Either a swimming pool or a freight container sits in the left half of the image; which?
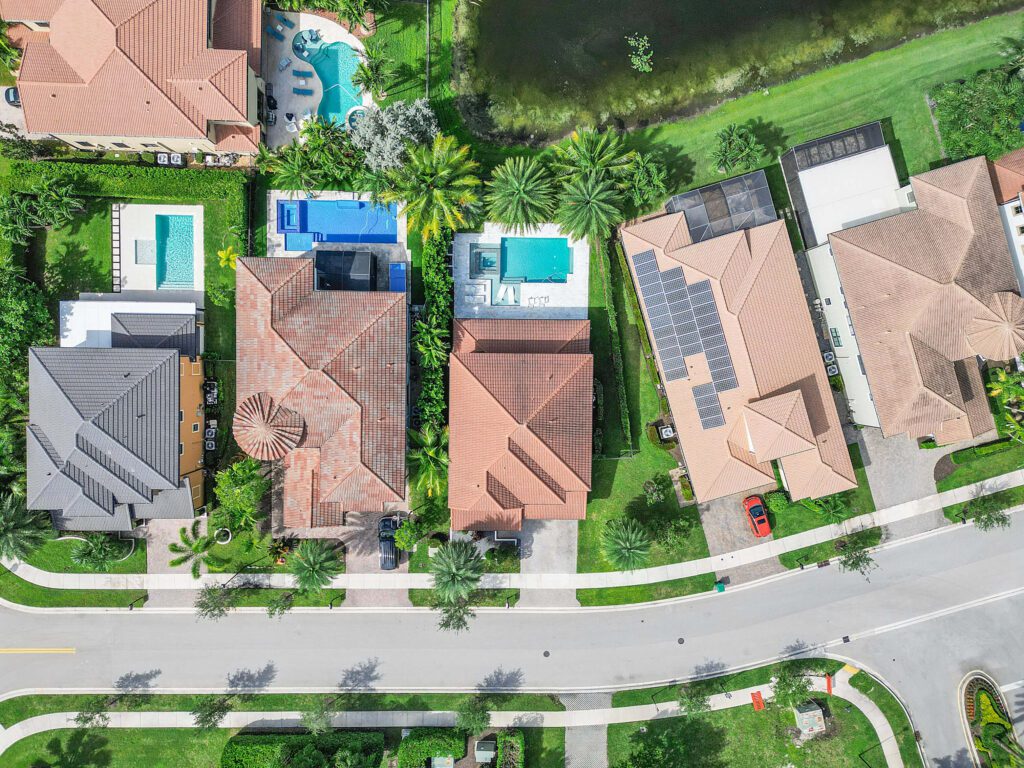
swimming pool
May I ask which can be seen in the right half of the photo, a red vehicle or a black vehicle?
red vehicle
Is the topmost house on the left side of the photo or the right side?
left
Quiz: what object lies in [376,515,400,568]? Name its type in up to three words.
car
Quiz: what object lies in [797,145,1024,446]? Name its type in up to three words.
house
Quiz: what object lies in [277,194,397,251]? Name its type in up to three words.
swimming pool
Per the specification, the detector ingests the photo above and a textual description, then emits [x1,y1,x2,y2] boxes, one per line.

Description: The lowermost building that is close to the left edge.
[25,301,206,532]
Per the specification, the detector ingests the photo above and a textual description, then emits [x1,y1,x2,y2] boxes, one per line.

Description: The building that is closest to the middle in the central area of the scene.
[448,318,594,531]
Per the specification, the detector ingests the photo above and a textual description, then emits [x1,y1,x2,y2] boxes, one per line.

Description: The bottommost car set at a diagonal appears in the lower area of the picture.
[739,493,775,539]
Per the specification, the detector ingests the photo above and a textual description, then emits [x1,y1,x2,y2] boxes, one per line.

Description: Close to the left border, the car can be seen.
[2,84,22,108]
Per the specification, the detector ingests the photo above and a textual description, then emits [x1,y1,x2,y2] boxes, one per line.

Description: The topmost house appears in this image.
[0,0,266,159]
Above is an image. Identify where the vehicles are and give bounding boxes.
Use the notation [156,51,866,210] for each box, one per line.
[739,493,775,539]
[376,515,400,568]
[2,84,22,108]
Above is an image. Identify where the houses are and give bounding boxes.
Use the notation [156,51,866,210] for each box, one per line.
[25,301,206,532]
[448,318,594,531]
[0,0,266,159]
[797,145,1024,446]
[232,256,410,528]
[620,210,858,504]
